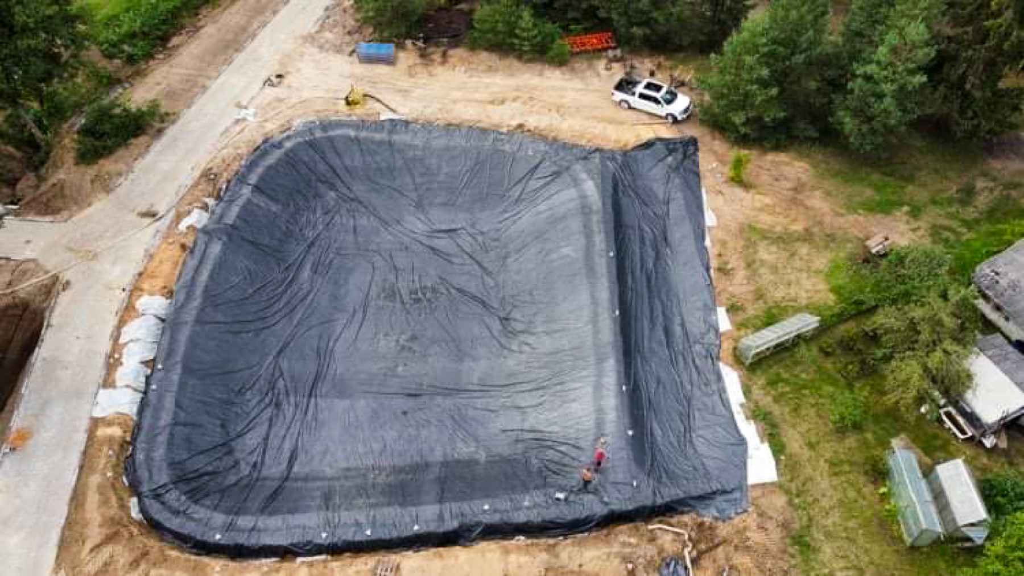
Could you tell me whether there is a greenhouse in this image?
Yes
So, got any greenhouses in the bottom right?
Yes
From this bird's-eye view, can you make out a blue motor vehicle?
No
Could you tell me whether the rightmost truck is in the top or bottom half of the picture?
top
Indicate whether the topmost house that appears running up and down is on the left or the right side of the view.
right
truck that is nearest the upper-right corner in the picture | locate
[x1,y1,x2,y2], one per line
[608,77,700,124]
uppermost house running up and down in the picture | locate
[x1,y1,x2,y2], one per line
[973,262,1024,370]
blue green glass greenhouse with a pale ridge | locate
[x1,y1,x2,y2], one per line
[871,443,945,549]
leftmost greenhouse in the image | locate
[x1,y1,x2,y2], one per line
[742,314,823,370]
